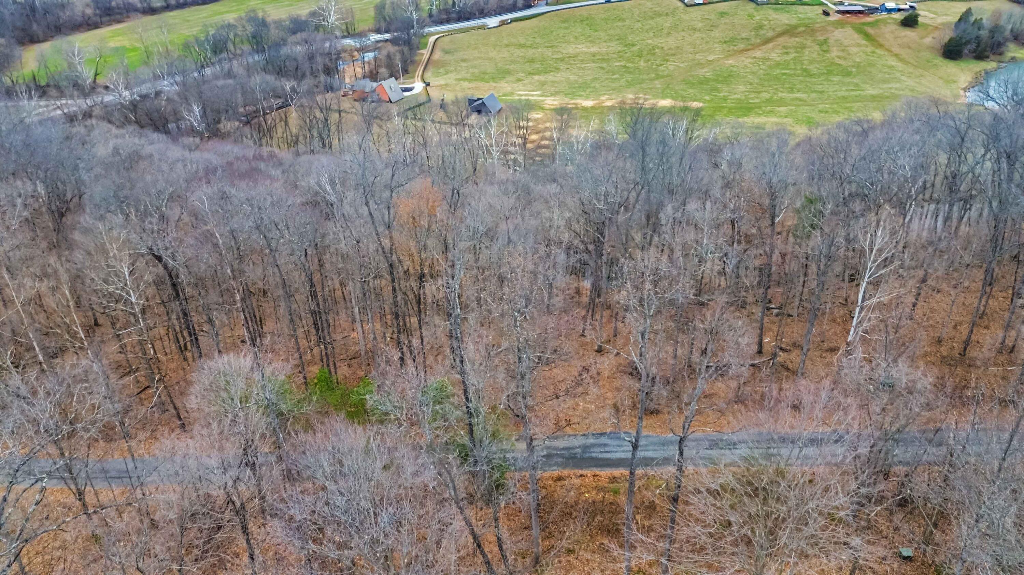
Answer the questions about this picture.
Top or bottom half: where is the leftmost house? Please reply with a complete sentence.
The top half of the photo is where the leftmost house is.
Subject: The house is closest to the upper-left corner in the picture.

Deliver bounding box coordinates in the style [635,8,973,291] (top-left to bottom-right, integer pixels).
[343,75,409,106]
